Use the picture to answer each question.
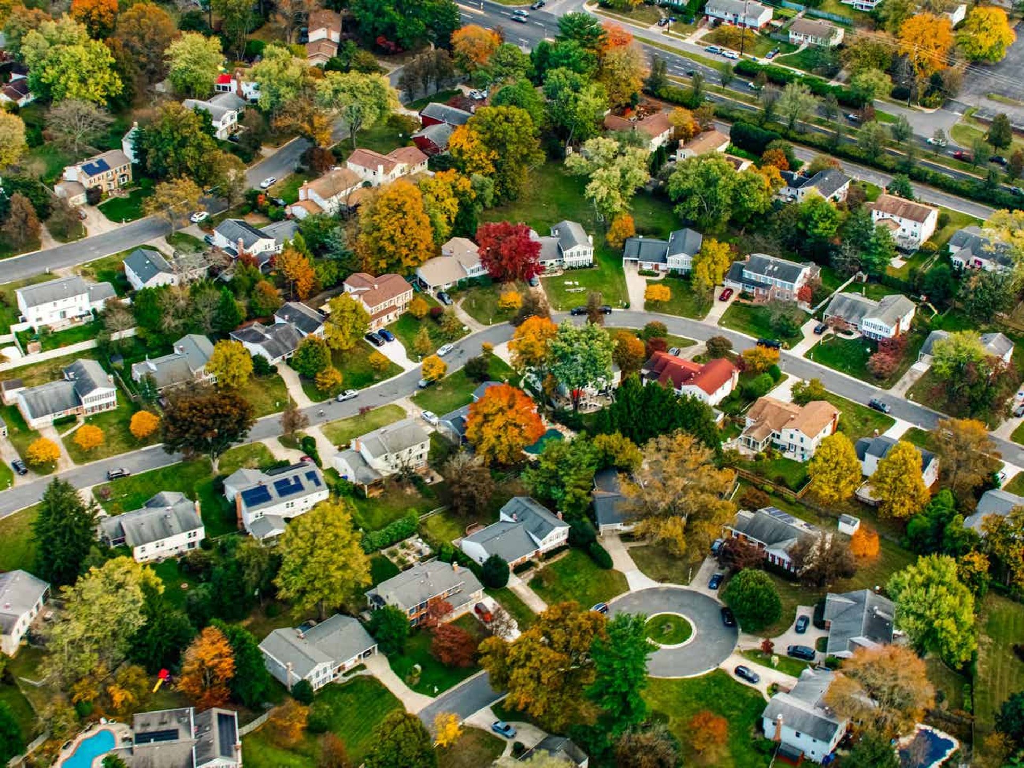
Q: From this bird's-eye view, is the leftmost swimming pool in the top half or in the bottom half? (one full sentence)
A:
The leftmost swimming pool is in the bottom half of the image.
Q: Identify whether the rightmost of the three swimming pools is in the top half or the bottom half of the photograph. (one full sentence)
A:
It is in the bottom half that the rightmost of the three swimming pools appears.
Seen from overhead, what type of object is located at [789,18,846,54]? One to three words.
house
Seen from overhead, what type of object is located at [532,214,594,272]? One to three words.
house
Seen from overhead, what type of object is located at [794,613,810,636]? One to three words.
car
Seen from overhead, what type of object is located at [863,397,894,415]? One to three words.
vehicle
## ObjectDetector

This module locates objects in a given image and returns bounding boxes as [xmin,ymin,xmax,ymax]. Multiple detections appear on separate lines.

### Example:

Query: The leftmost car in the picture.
[11,455,29,476]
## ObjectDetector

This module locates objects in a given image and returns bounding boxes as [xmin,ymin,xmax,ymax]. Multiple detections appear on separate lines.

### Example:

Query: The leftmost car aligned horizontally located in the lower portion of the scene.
[103,466,132,481]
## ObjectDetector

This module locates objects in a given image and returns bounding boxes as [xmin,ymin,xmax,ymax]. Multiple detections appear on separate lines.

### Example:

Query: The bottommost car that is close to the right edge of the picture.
[992,467,1009,486]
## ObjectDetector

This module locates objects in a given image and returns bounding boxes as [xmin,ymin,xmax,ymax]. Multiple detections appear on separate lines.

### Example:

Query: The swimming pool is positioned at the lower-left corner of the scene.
[53,722,131,768]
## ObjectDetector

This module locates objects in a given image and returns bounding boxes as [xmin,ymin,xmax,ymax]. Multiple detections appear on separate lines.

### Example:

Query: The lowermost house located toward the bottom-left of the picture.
[130,697,247,768]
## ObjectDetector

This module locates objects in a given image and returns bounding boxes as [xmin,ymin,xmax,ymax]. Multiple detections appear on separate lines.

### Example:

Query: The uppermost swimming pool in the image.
[521,423,575,459]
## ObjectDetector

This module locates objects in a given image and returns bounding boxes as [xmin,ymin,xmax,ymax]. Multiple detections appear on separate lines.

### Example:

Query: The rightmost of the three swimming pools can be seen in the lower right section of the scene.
[896,723,962,768]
